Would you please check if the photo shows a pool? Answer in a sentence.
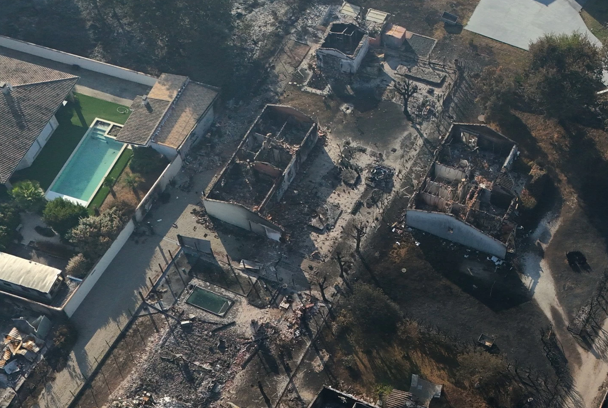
Yes, you can see a pool in this photo.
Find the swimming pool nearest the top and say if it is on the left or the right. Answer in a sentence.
The swimming pool nearest the top appears in the left half of the scene.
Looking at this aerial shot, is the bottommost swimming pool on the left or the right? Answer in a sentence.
It is on the left.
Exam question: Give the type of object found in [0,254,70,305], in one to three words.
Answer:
house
